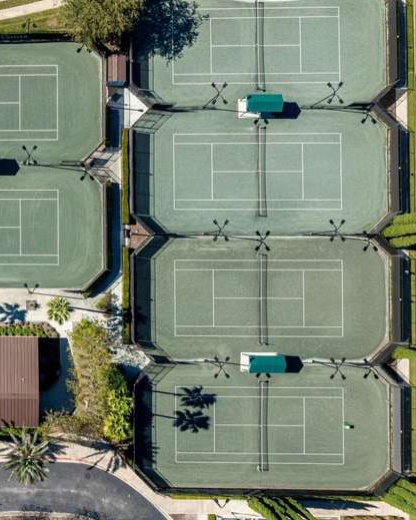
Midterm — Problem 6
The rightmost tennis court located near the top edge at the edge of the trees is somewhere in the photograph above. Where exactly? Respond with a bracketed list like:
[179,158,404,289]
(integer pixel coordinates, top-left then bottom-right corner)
[134,0,388,108]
